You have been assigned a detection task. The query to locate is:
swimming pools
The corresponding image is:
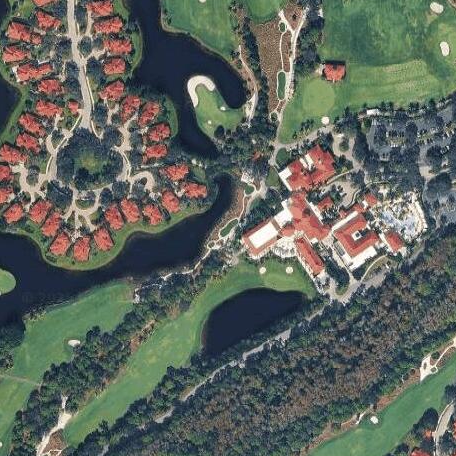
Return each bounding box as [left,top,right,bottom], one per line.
[370,190,428,242]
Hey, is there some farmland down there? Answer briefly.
No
